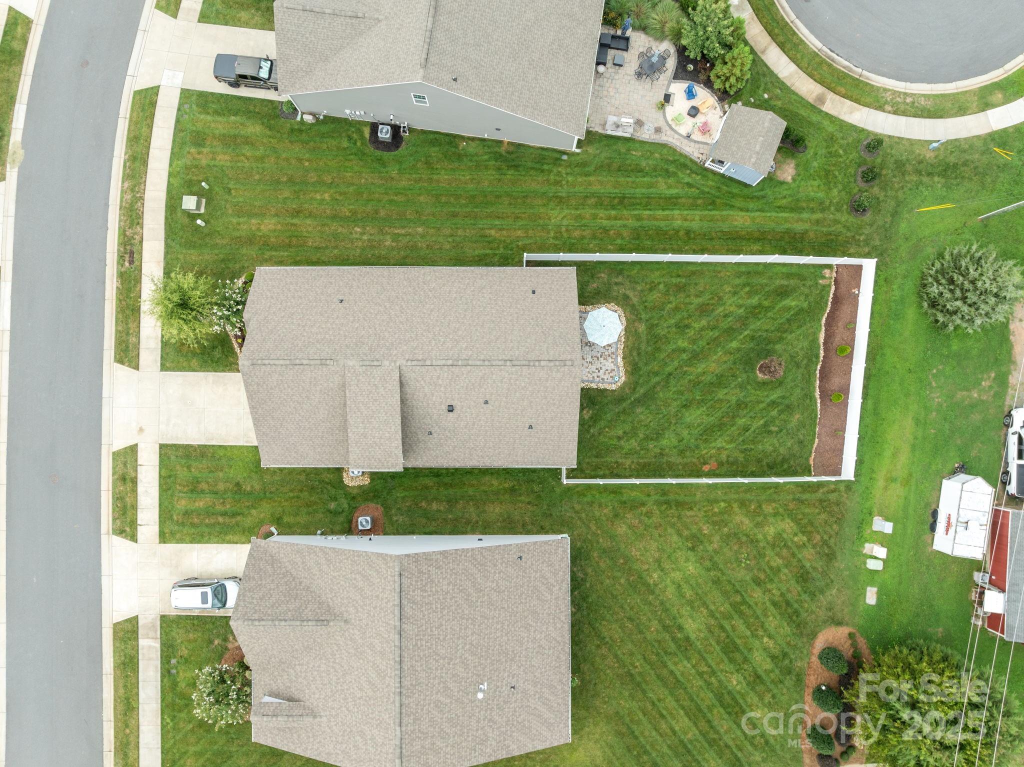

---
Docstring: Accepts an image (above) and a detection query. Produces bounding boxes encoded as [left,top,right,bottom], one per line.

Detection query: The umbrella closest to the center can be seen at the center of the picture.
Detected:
[583,309,622,347]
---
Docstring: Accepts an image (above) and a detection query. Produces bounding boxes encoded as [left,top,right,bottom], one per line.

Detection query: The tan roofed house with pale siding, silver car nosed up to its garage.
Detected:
[231,520,571,767]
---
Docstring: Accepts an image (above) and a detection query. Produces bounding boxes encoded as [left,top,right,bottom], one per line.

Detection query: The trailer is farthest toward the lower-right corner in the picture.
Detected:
[932,459,993,560]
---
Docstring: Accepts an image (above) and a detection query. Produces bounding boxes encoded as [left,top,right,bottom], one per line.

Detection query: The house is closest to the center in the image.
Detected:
[240,265,581,472]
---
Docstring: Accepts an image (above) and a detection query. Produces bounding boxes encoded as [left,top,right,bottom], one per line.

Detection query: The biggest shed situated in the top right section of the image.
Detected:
[707,102,786,184]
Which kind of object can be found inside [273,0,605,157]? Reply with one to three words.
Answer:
house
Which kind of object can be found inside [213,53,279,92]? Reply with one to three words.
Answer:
truck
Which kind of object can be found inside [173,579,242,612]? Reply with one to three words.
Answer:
car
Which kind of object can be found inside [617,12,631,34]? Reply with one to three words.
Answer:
umbrella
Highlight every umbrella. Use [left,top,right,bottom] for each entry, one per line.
[650,46,661,61]
[617,12,631,34]
[583,309,622,347]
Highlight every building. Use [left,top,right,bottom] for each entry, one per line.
[240,265,581,472]
[273,0,605,157]
[231,520,571,767]
[960,507,1024,644]
[707,102,786,184]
